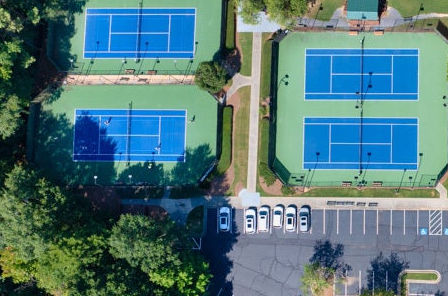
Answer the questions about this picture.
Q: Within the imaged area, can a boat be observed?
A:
No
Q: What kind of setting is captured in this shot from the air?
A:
sports ground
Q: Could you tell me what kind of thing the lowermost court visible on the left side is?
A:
tennis court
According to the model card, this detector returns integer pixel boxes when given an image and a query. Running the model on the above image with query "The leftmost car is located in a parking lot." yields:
[219,207,231,231]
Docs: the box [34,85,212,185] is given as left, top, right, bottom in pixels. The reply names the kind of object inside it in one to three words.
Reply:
tennis court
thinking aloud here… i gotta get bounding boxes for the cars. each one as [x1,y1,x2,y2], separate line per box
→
[258,206,270,231]
[299,207,310,231]
[285,207,297,231]
[245,210,257,234]
[219,207,231,231]
[274,206,284,228]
